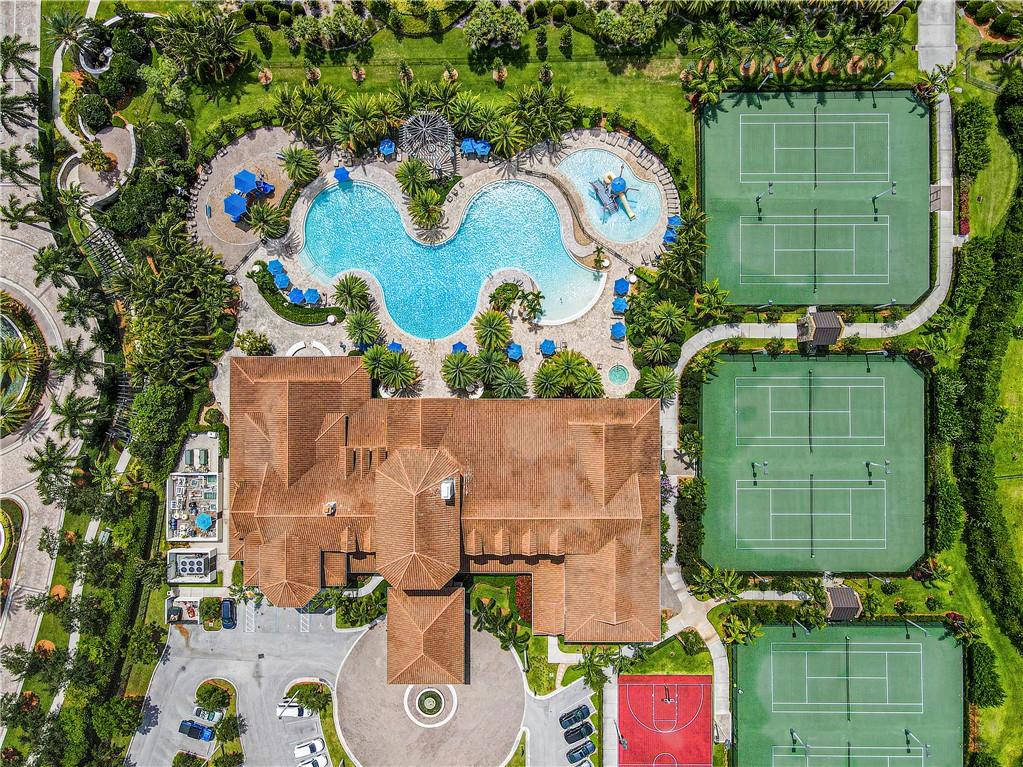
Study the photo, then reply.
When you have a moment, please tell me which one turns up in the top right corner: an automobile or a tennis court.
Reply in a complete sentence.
Visible in the top right corner is a tennis court.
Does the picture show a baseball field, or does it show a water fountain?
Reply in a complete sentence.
Looking from above, you can make out a water fountain.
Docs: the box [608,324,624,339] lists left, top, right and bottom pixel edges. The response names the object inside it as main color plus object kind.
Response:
blue umbrella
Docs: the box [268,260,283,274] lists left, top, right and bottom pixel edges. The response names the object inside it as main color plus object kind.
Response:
blue umbrella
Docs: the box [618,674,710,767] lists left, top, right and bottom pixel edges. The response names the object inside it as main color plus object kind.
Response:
red basketball court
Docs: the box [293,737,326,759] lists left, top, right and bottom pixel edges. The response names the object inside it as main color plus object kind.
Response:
white car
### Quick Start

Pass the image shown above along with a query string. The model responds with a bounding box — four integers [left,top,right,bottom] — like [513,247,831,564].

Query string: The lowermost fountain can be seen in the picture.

[417,689,444,716]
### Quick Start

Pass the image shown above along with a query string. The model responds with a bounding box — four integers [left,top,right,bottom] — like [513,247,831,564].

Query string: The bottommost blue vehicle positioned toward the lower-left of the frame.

[177,719,215,740]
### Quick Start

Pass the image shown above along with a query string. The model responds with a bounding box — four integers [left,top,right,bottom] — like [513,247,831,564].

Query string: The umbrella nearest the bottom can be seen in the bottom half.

[197,511,213,527]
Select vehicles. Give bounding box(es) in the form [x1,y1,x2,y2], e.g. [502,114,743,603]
[564,740,596,763]
[220,596,237,628]
[177,719,215,740]
[293,737,326,759]
[562,721,594,744]
[277,700,311,717]
[571,758,598,767]
[297,752,330,767]
[194,705,224,723]
[557,704,590,728]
